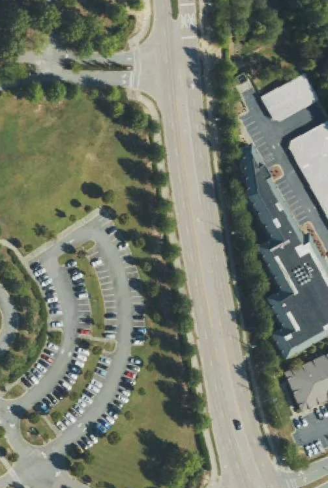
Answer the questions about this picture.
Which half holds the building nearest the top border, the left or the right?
right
